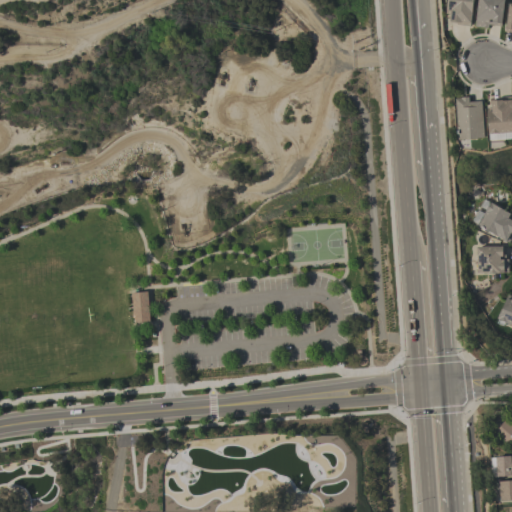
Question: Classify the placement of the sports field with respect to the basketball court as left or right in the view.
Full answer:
Looking at the picture, you'll find the sports field to the left of the basketball court.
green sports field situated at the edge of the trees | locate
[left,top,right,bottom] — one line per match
[0,208,146,394]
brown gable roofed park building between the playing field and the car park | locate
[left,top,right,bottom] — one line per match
[132,292,150,324]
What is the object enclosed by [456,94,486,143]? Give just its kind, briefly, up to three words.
house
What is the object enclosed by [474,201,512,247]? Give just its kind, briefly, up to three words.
house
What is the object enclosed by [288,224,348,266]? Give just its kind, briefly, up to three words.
basketball court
